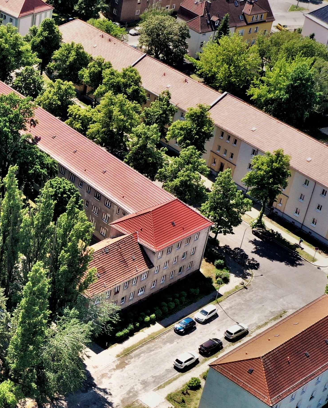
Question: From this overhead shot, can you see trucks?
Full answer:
No, the frame has no truck in it.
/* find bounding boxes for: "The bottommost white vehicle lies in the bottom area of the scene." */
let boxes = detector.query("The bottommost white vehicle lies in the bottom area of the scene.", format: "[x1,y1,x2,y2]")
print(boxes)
[172,352,202,371]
